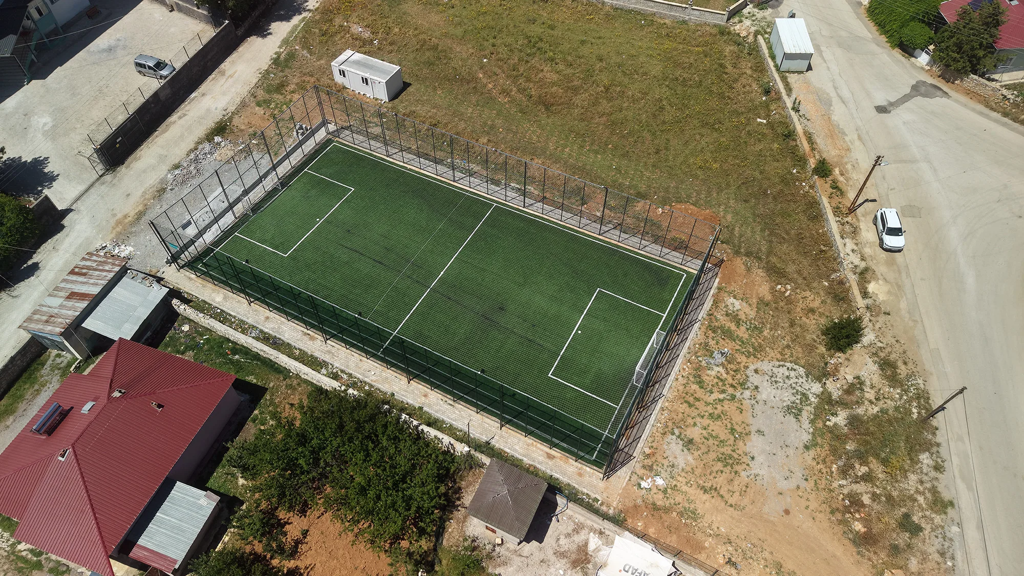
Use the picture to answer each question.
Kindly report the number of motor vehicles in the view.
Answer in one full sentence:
The picture shows 2 motor vehicles.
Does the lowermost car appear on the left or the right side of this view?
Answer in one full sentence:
It is on the right.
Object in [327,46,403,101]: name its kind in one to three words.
building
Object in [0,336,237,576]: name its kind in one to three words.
house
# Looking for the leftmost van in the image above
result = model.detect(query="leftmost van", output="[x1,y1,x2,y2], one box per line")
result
[131,51,176,80]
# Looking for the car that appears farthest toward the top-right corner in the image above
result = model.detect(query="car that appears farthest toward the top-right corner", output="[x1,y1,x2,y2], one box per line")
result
[873,209,911,254]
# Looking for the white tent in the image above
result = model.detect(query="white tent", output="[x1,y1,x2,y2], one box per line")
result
[589,533,685,576]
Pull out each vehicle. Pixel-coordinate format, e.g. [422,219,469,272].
[873,209,911,254]
[131,51,176,80]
